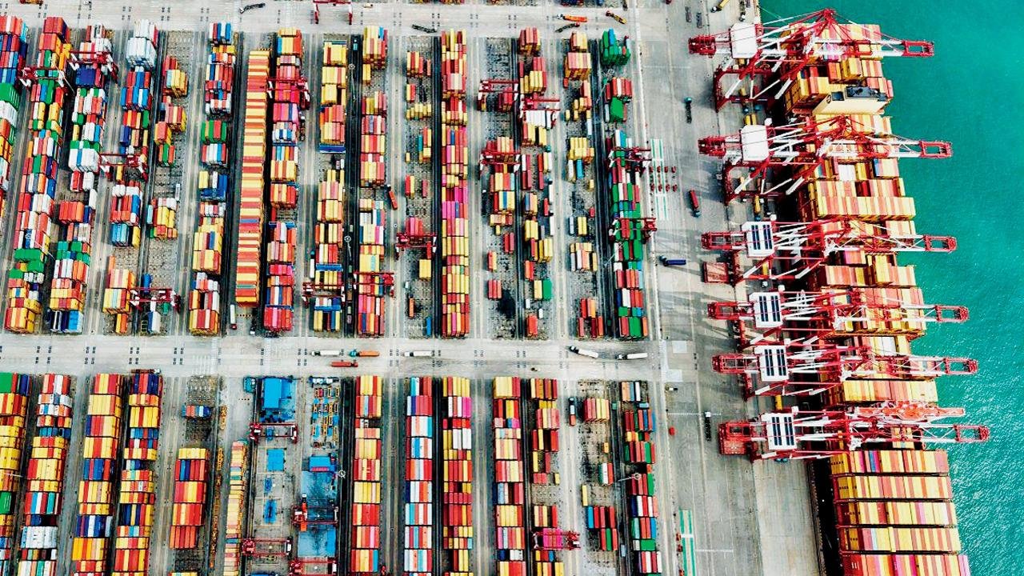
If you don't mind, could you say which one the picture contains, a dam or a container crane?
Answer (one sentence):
Of the two, only a container crane appears.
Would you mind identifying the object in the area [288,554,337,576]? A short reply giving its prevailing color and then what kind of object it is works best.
red container crane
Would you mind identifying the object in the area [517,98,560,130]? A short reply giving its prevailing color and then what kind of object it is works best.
red container crane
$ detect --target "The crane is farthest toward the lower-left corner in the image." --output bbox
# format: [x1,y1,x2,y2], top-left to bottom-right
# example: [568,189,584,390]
[242,531,293,562]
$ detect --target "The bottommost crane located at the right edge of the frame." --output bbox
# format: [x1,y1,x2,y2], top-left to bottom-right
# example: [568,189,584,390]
[717,408,992,465]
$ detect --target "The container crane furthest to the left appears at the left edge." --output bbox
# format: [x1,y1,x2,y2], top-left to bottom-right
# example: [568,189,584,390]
[26,66,78,99]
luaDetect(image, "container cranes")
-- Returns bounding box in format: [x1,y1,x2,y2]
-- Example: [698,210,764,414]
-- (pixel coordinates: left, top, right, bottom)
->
[688,7,936,101]
[701,214,960,288]
[100,152,150,184]
[517,98,560,130]
[350,271,393,300]
[300,281,345,311]
[476,79,518,111]
[707,287,972,352]
[698,115,955,198]
[712,340,981,402]
[607,216,655,246]
[290,501,338,531]
[26,66,78,99]
[130,286,181,315]
[288,554,337,576]
[242,531,293,562]
[395,232,438,262]
[249,421,297,448]
[603,147,650,178]
[477,150,520,181]
[269,75,312,108]
[717,408,992,465]
[70,49,120,83]
[528,525,578,556]
[313,0,353,24]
